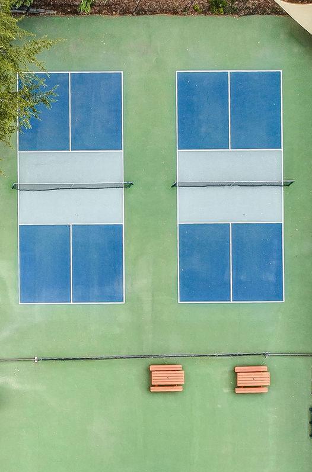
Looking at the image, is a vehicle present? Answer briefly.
No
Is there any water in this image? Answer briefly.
No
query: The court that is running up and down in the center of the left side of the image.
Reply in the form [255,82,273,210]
[18,71,125,304]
